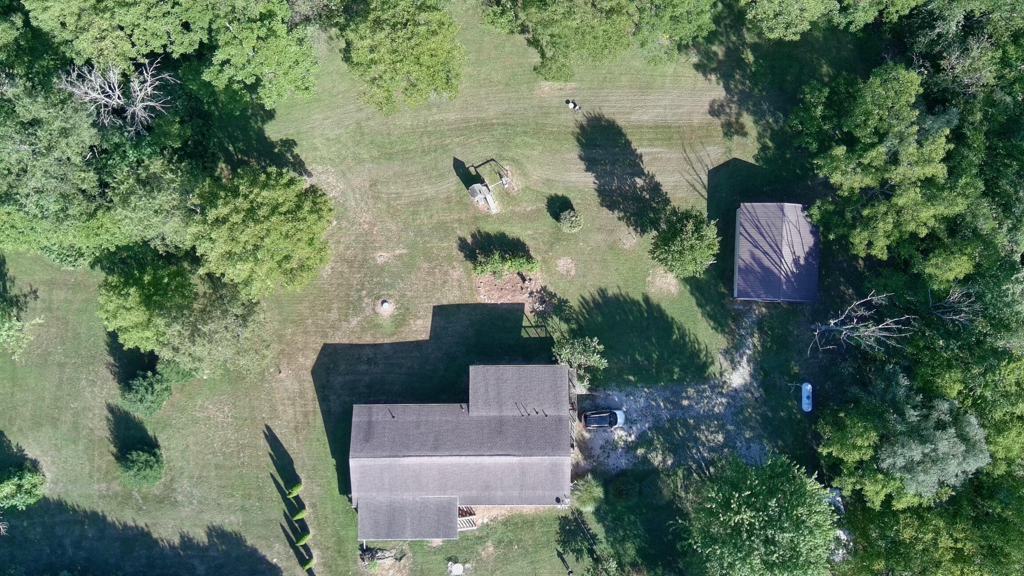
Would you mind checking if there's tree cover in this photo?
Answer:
Yes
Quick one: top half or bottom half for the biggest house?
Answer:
bottom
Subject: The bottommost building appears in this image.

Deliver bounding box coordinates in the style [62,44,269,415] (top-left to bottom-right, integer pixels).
[349,365,571,540]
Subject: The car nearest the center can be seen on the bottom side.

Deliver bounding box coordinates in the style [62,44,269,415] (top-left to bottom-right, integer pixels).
[581,408,624,429]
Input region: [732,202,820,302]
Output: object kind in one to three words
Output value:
building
